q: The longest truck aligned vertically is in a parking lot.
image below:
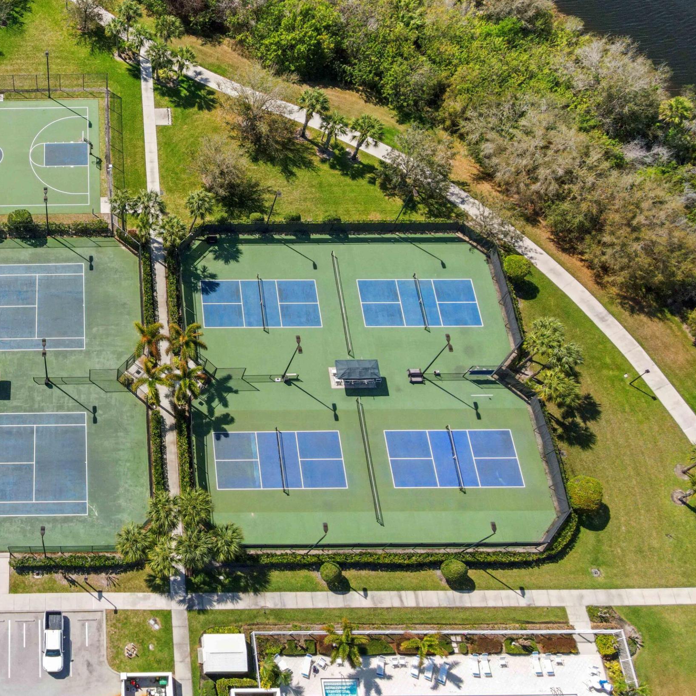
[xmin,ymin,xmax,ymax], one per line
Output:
[39,608,66,673]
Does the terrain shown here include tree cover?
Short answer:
Yes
